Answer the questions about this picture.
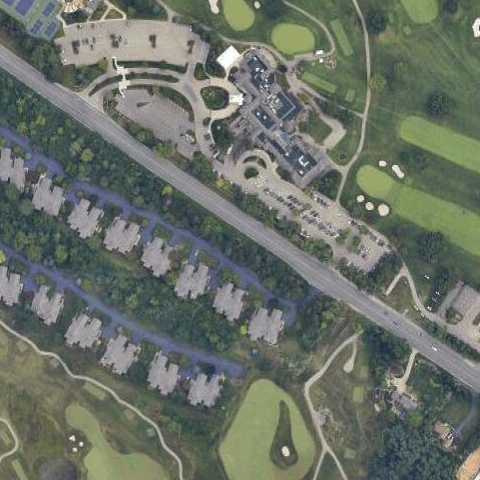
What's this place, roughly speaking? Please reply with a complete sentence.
It's a golf course.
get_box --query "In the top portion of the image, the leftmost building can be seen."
[0,150,25,189]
